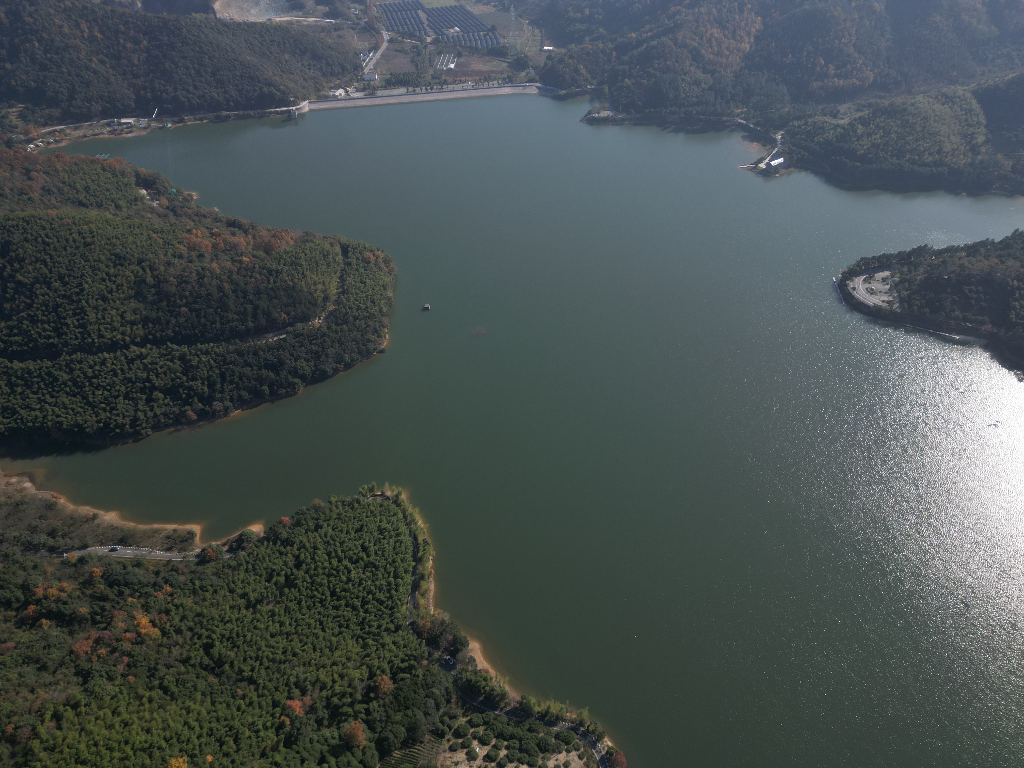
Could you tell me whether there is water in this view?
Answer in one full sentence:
Yes, water shows up in the scene.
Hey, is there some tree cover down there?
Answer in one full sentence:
Yes, tree cover can be seen from above here.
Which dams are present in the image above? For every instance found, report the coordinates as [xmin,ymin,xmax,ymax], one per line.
[307,84,535,111]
